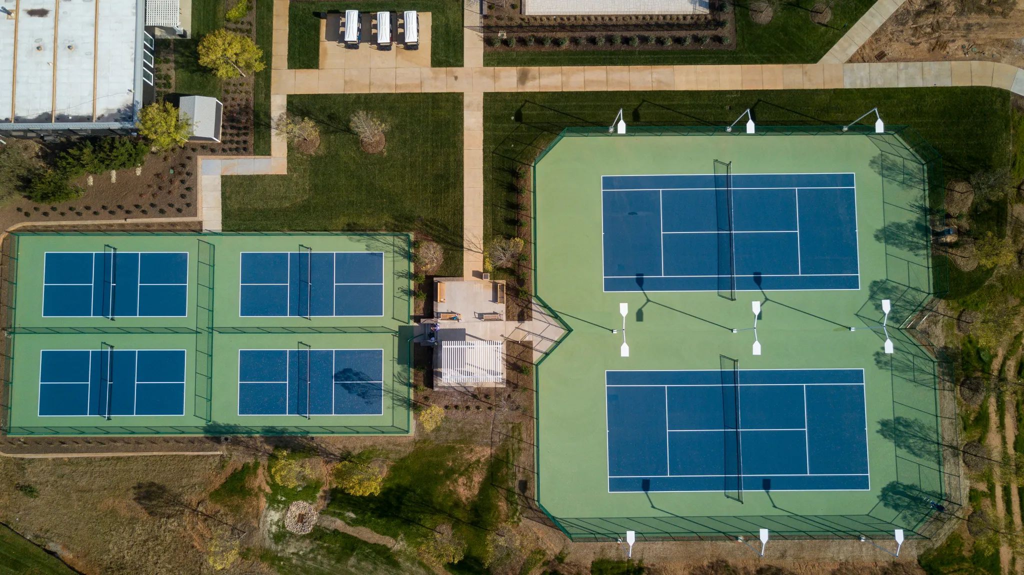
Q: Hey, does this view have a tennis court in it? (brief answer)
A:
Yes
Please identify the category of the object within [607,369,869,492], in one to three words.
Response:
tennis court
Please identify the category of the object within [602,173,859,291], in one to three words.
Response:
tennis court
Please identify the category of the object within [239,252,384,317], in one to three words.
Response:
sports court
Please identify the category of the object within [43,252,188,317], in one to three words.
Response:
sports court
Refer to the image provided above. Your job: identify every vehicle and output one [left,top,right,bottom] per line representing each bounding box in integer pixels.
[343,11,362,50]
[377,12,394,52]
[406,12,421,51]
